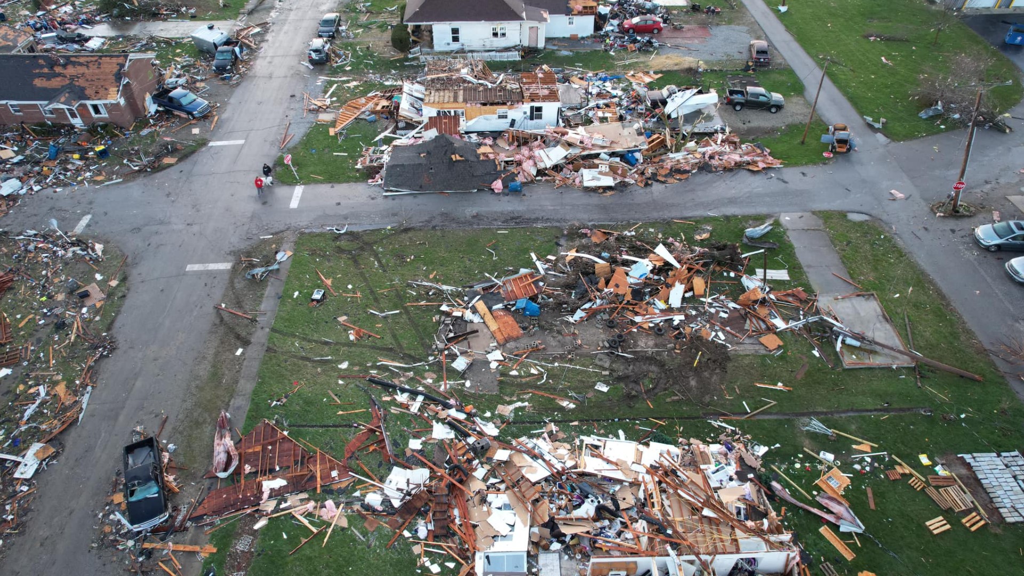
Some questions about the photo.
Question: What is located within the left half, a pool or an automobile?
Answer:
automobile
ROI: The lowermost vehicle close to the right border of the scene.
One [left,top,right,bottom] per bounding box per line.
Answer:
[1004,259,1024,285]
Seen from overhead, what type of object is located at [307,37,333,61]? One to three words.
car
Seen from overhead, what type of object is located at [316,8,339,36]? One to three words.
car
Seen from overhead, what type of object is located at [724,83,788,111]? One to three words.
truck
